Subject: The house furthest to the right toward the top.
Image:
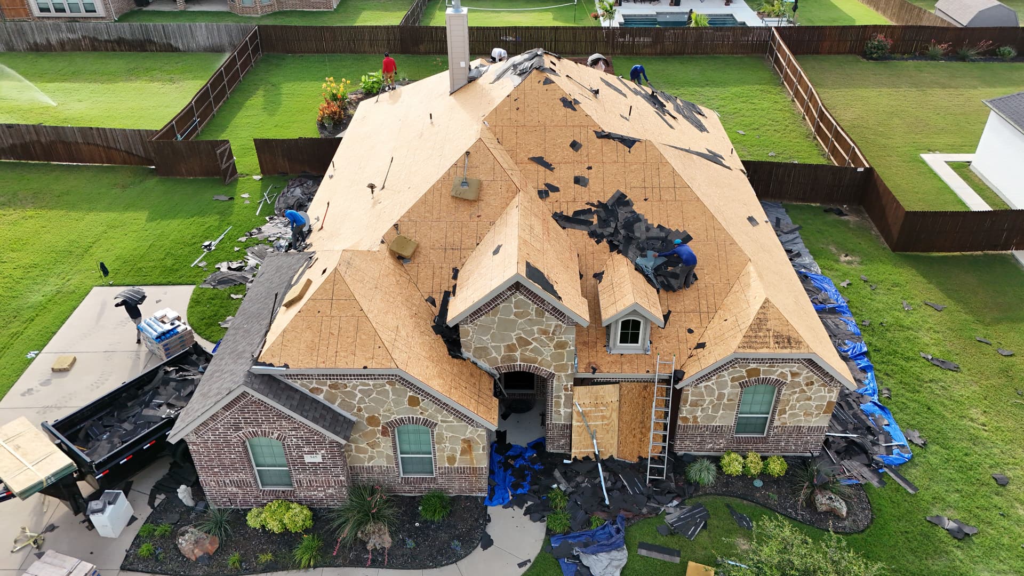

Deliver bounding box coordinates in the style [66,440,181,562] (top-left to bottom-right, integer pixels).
[970,97,1024,204]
